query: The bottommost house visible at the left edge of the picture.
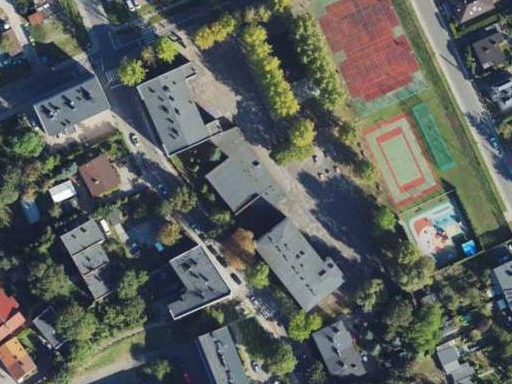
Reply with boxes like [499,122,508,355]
[0,337,37,381]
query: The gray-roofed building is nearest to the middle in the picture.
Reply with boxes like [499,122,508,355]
[206,128,286,216]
